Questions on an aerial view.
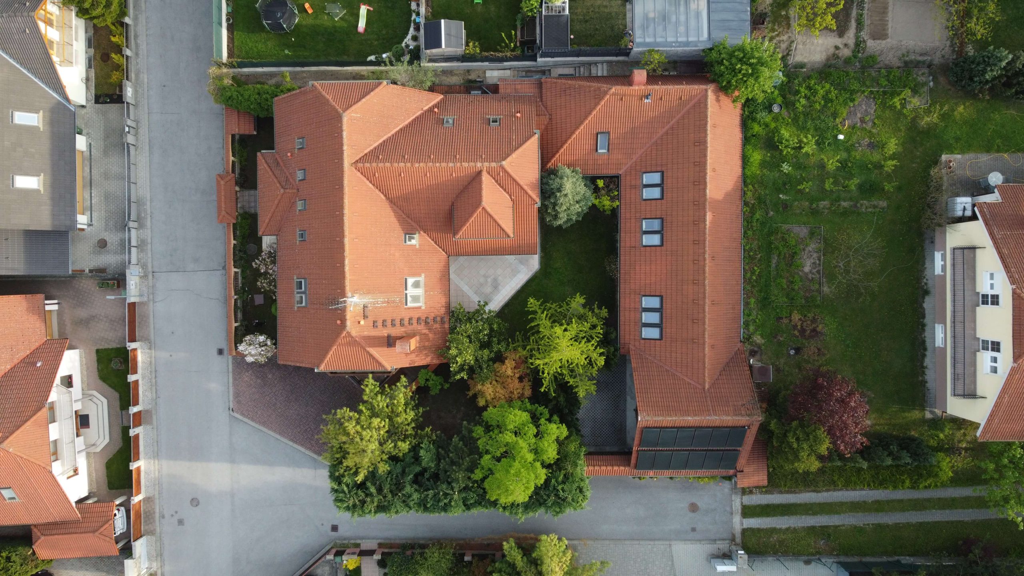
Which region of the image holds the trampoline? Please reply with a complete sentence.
The trampoline is in the top left part of the image.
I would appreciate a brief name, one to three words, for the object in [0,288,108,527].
house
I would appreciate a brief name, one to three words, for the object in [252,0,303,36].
trampoline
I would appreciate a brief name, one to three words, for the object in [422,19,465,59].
shed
